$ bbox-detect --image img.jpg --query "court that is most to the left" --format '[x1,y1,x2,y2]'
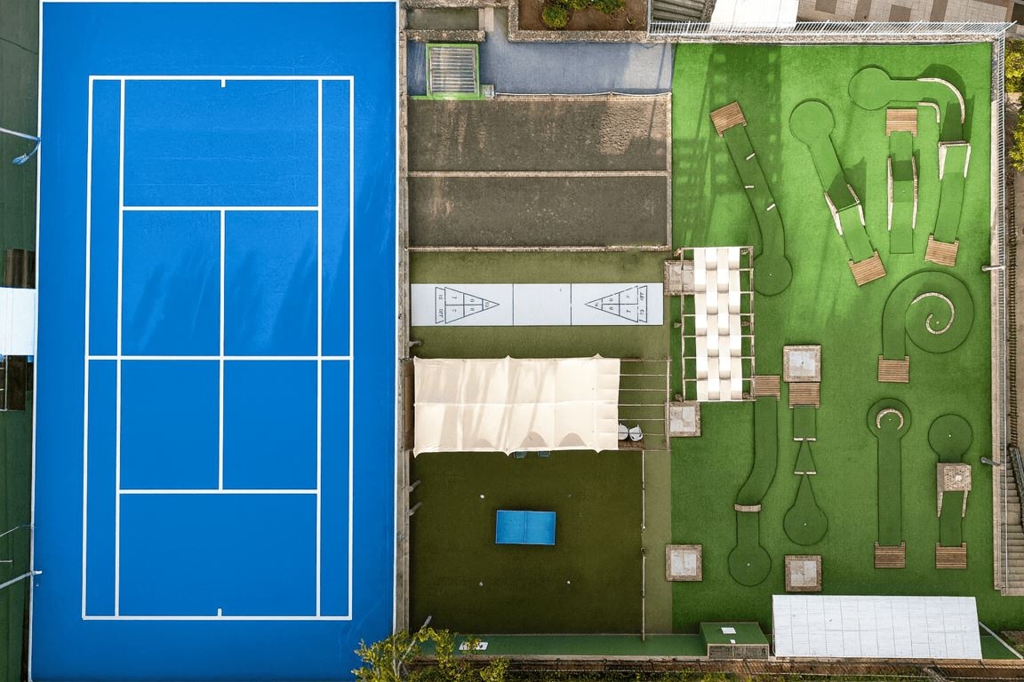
[26,0,398,682]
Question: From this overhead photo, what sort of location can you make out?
sports ground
